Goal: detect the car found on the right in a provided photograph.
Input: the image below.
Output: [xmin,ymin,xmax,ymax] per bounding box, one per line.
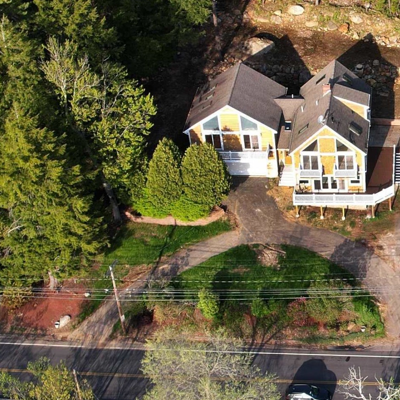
[284,380,332,400]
